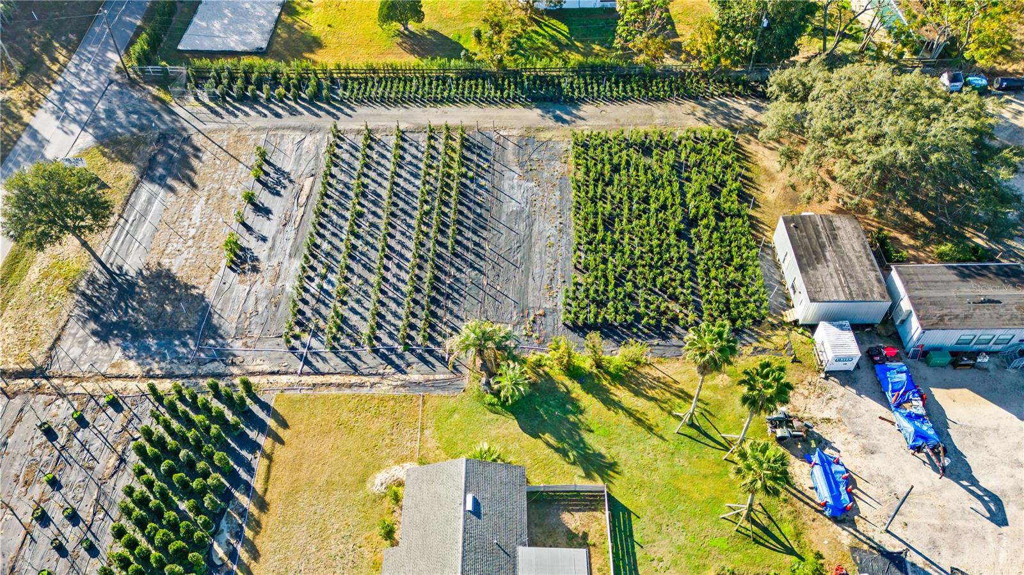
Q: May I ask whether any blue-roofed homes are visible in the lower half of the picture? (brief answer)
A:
No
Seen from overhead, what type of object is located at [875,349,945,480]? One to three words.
trailer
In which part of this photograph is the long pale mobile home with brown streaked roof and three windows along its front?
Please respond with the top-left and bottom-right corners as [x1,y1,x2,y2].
[884,264,1024,349]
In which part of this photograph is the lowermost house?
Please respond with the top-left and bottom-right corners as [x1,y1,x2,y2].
[381,459,529,575]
